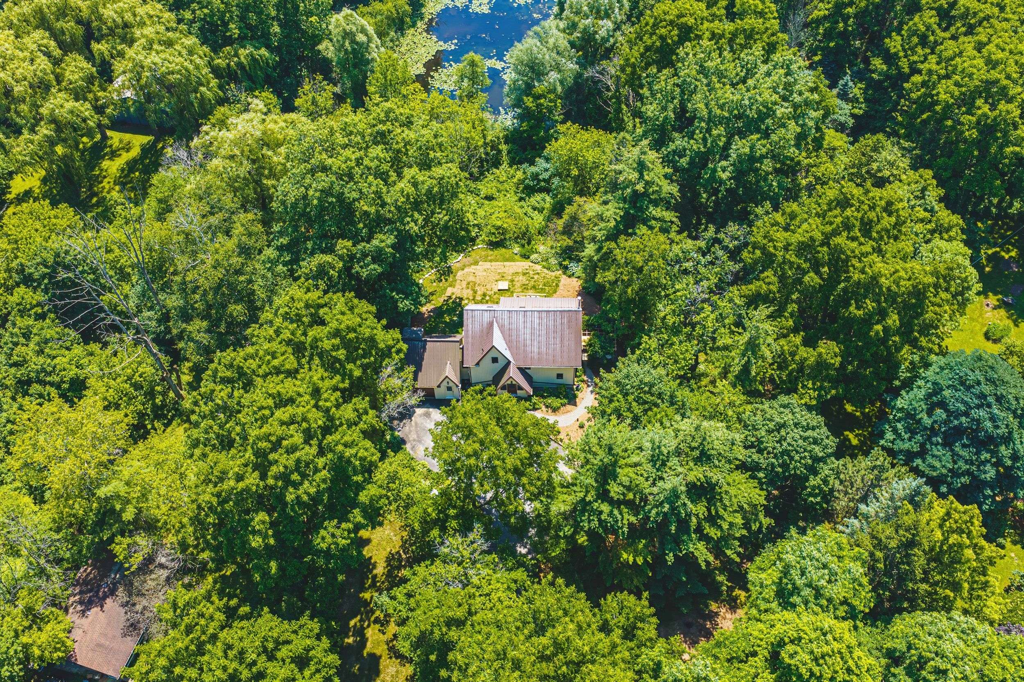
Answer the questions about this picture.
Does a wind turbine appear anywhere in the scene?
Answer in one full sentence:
No, the frame has no wind turbine in it.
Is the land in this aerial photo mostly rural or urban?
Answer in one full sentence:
The area shown here is rural.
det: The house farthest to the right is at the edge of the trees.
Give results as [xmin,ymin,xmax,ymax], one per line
[460,294,583,400]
